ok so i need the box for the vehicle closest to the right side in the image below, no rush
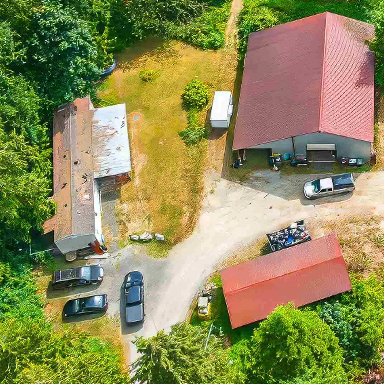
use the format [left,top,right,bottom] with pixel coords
[304,171,357,201]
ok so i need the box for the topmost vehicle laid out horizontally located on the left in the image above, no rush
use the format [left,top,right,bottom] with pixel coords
[48,264,108,293]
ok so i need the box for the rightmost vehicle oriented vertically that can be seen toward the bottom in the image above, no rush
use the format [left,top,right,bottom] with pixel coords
[193,283,216,322]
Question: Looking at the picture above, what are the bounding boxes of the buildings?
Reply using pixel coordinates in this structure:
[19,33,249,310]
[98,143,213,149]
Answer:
[27,91,121,252]
[221,235,353,336]
[233,14,375,168]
